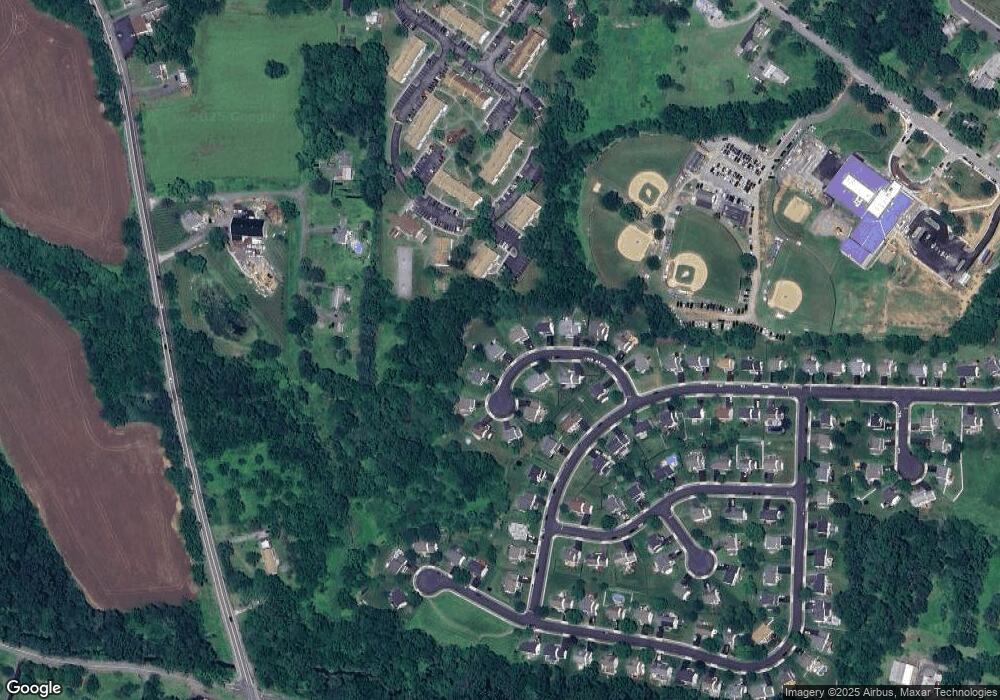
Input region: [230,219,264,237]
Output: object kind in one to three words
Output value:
barn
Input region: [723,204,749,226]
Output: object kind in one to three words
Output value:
building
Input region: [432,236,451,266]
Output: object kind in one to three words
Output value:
building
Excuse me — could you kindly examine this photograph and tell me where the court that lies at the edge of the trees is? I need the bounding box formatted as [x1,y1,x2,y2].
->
[396,247,412,298]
